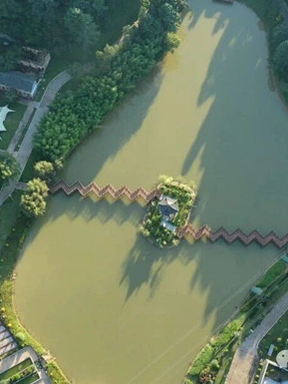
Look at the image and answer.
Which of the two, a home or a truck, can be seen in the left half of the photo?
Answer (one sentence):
What appears in the left half of the photo is a home.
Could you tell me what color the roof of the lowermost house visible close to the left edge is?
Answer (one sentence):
The roof over the lowermost house visible close to the left edge appears blue.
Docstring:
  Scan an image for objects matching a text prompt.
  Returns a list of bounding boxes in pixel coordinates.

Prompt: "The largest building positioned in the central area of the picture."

[157,197,180,221]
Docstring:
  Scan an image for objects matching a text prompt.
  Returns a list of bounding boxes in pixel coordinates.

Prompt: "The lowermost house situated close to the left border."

[0,69,37,97]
